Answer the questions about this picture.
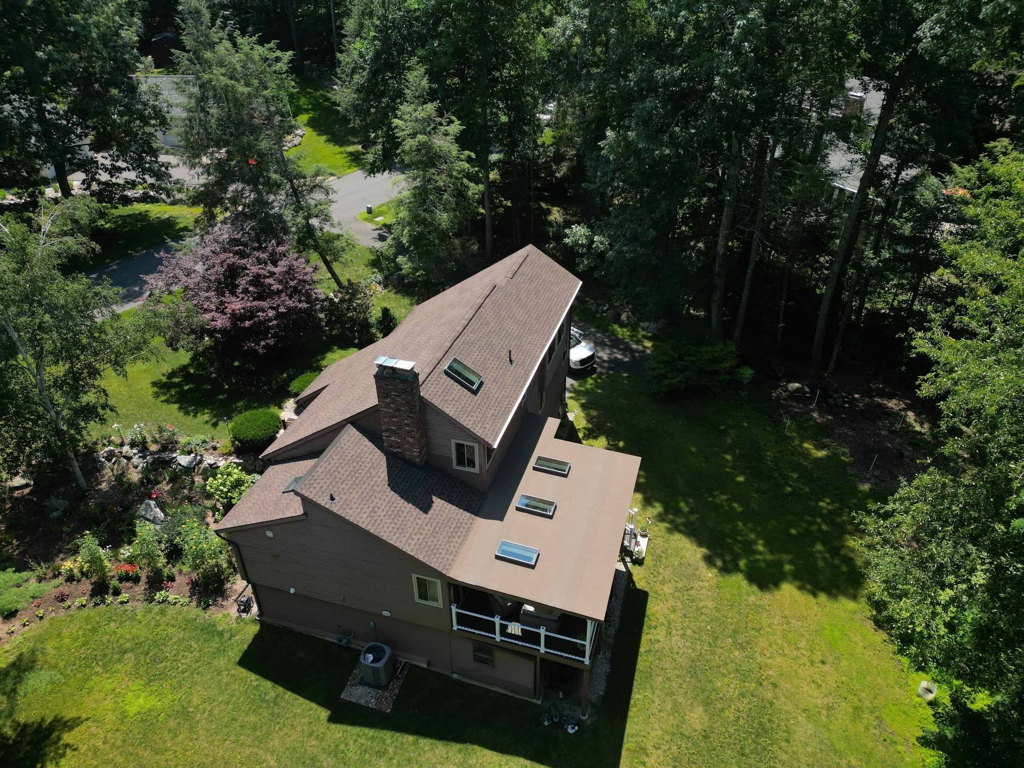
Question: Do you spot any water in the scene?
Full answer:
No, there's no water in this view.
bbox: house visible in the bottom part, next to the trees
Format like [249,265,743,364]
[211,244,644,714]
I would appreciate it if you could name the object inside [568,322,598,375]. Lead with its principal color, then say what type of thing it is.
white truck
